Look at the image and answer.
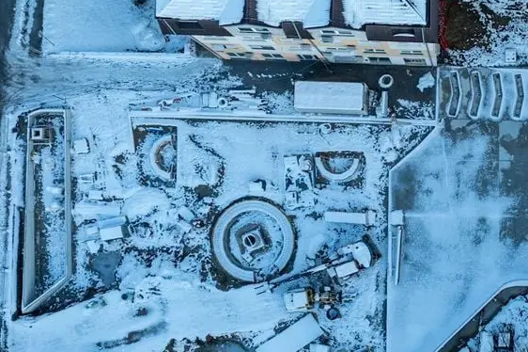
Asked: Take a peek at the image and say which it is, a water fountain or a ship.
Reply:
water fountain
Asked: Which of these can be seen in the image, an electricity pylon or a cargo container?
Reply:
cargo container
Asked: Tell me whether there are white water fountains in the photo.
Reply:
No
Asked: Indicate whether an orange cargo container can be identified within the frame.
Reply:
No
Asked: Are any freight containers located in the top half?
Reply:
Yes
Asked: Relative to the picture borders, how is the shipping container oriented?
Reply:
from left to right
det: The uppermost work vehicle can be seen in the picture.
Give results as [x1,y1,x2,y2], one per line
[266,244,378,294]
